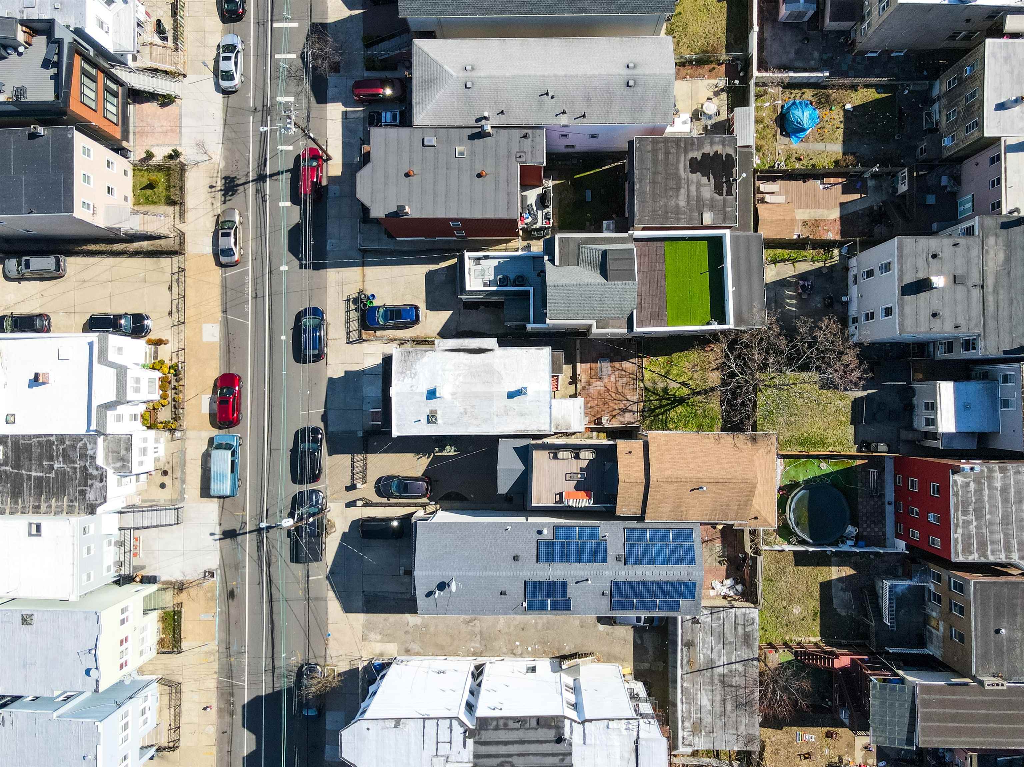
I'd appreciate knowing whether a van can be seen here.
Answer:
Yes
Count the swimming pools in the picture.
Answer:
1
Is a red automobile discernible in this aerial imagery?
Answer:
Yes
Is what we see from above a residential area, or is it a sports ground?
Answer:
residential area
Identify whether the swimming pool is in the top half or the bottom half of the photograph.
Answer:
bottom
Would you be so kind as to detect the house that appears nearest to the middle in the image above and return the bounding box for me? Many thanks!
[380,340,584,436]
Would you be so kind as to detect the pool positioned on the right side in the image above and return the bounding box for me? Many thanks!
[780,479,850,545]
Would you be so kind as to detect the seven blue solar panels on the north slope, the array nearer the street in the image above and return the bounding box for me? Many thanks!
[538,527,607,564]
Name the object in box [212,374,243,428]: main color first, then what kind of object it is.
red car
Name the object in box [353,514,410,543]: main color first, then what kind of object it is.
black car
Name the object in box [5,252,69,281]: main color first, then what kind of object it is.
gray car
